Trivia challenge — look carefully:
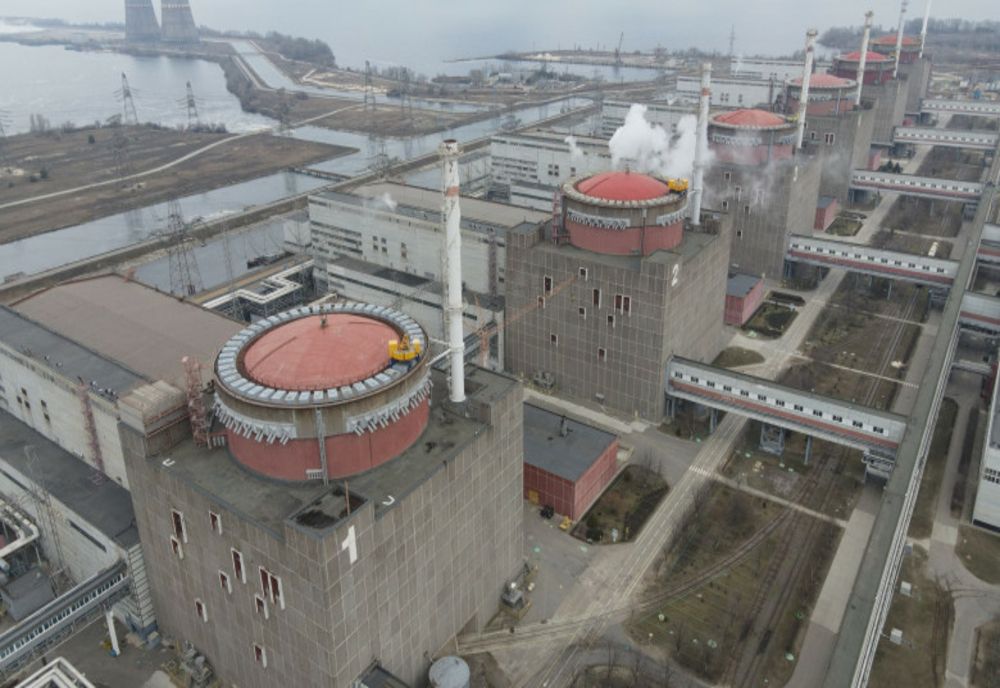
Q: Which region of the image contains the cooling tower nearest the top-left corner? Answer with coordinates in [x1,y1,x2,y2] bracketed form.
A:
[120,0,164,42]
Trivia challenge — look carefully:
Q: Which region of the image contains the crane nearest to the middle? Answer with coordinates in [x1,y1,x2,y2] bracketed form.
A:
[462,280,587,371]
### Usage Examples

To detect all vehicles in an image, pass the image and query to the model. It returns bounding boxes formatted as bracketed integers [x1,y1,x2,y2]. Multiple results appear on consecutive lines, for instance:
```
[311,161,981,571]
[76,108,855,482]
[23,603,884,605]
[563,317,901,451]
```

[561,514,572,527]
[540,508,556,518]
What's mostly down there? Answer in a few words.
buildings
